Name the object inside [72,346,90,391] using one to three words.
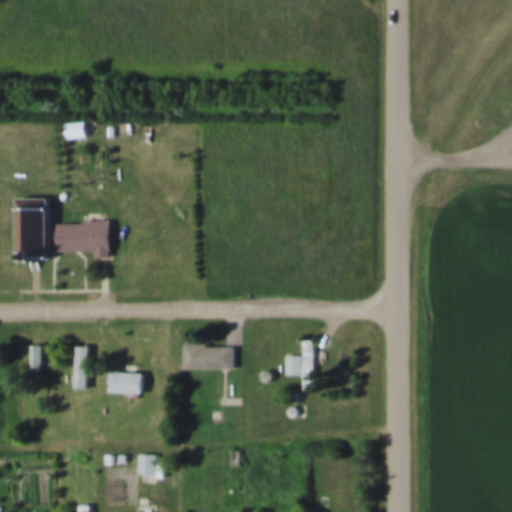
house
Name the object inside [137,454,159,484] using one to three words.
house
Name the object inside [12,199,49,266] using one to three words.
building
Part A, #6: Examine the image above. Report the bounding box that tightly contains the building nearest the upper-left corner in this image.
[64,121,92,142]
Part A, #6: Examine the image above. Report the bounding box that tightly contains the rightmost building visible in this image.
[284,340,316,391]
